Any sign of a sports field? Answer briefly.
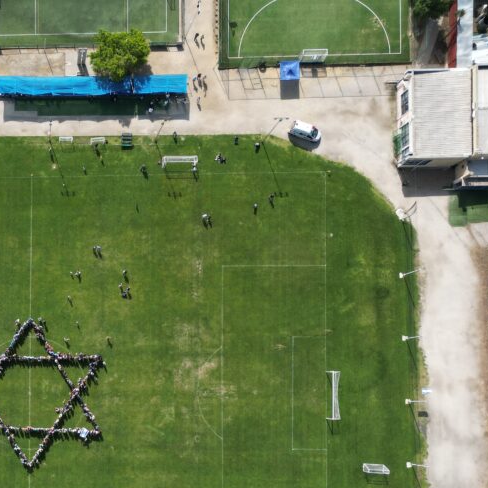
Yes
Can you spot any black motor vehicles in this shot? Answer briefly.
No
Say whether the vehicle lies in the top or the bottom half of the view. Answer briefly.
top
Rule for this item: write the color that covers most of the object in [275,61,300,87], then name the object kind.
blue gazebo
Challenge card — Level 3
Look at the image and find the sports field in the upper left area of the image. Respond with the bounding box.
[0,0,182,46]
